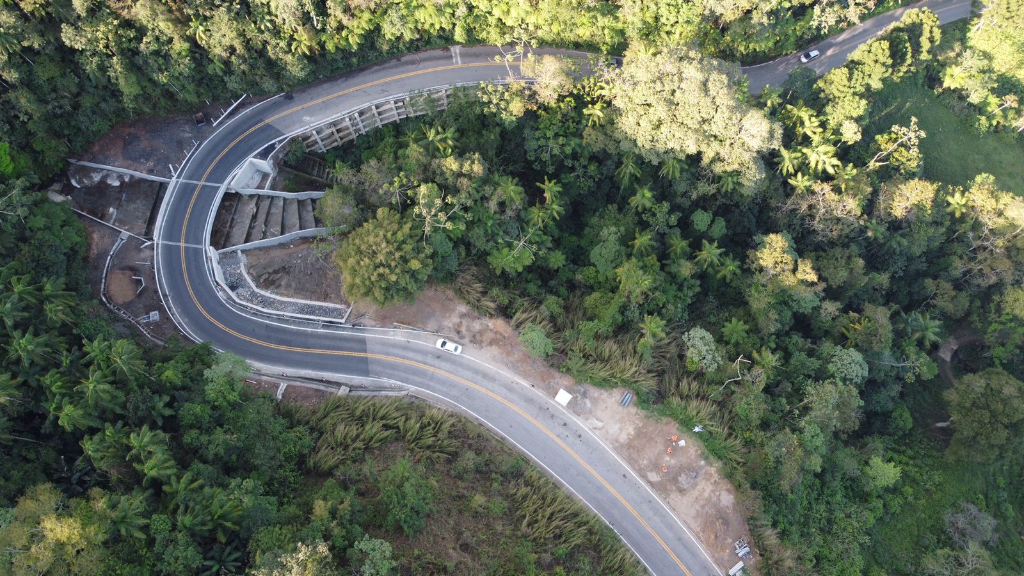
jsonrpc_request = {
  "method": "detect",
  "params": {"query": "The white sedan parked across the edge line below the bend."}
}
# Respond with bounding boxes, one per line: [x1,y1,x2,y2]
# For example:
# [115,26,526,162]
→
[435,338,462,354]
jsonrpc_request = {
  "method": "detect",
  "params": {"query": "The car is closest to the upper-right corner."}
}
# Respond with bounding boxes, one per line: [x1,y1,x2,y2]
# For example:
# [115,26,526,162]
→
[801,47,821,62]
